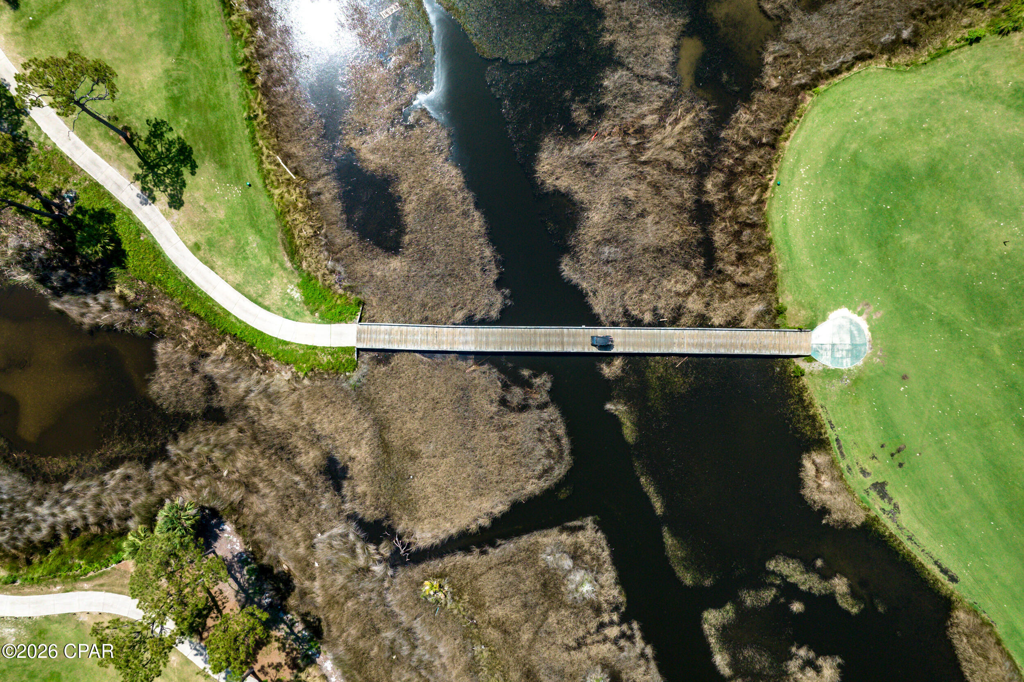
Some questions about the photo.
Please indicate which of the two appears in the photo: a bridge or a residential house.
bridge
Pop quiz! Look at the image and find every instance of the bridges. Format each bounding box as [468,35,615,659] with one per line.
[355,304,813,362]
